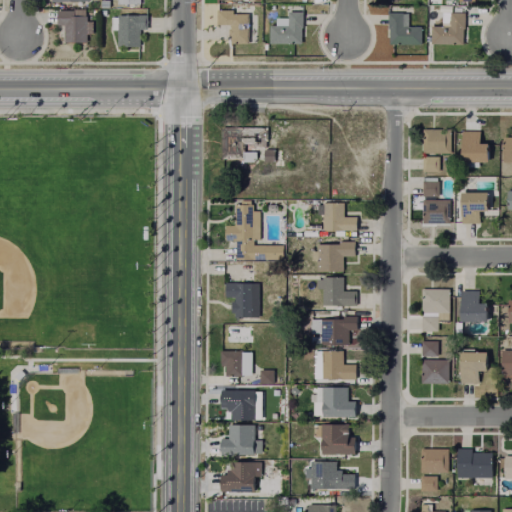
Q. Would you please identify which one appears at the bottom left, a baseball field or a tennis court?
baseball field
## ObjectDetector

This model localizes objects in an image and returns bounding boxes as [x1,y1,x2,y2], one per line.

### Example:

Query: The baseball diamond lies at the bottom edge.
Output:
[20,374,152,508]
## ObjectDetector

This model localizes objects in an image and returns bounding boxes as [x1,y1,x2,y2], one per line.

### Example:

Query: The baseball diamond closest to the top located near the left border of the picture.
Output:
[0,150,98,338]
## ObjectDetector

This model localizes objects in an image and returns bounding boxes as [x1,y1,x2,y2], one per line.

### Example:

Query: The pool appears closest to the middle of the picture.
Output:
[266,216,280,241]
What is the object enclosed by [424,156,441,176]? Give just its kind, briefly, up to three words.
building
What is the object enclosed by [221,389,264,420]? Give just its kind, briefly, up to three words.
house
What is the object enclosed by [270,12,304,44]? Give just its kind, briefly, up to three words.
house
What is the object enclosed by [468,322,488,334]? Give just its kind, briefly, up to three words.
swimming pool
